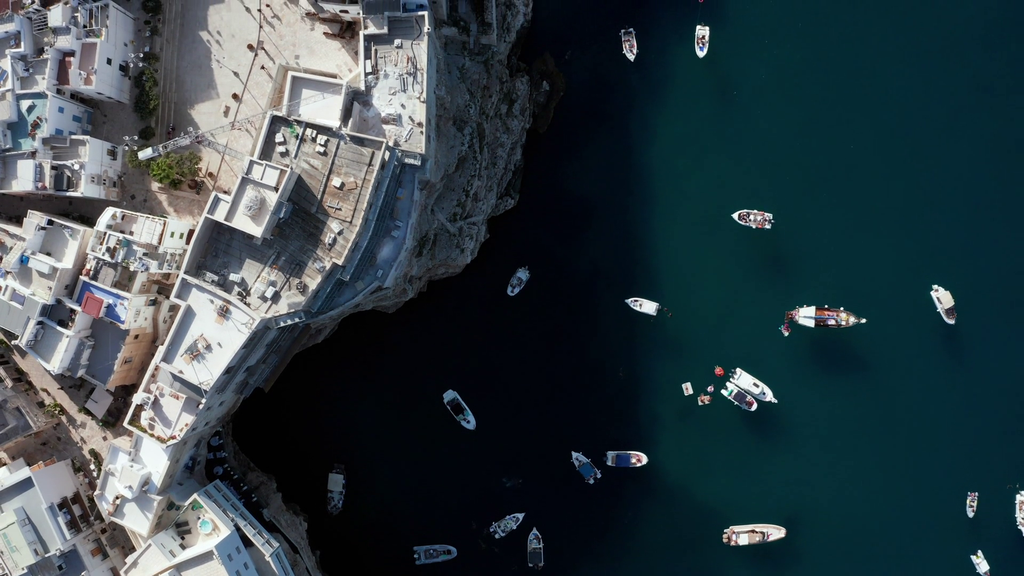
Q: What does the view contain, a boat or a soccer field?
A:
boat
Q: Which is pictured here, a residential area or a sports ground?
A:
residential area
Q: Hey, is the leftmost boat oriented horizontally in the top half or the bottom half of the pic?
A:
bottom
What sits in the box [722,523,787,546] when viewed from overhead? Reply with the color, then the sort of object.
white boat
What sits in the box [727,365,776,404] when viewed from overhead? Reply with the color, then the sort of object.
white boat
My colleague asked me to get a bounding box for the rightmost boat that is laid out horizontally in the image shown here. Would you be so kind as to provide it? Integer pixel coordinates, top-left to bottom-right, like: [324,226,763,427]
[783,303,868,329]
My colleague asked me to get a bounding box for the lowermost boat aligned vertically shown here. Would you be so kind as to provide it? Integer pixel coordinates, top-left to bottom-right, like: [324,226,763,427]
[527,527,544,571]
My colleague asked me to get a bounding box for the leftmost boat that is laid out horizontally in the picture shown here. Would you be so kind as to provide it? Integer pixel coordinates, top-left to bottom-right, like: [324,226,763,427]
[412,544,458,564]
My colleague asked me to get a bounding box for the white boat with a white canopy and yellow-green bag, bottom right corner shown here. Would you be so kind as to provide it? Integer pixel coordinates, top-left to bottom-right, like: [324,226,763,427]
[966,547,994,576]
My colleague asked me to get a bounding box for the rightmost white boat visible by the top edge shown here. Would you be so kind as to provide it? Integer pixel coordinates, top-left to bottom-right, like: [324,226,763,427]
[694,21,711,59]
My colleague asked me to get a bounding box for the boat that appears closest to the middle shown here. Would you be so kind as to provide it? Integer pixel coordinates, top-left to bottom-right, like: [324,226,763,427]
[509,264,531,295]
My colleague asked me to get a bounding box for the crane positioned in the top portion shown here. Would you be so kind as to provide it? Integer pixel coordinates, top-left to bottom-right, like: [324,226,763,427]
[134,66,393,163]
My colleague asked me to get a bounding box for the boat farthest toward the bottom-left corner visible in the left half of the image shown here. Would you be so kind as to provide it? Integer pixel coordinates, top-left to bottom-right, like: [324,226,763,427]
[326,463,348,516]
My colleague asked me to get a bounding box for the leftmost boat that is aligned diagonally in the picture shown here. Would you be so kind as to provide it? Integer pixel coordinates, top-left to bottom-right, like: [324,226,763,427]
[441,388,476,430]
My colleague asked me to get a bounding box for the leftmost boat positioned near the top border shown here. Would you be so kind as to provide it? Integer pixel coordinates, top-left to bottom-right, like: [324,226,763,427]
[621,25,639,63]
